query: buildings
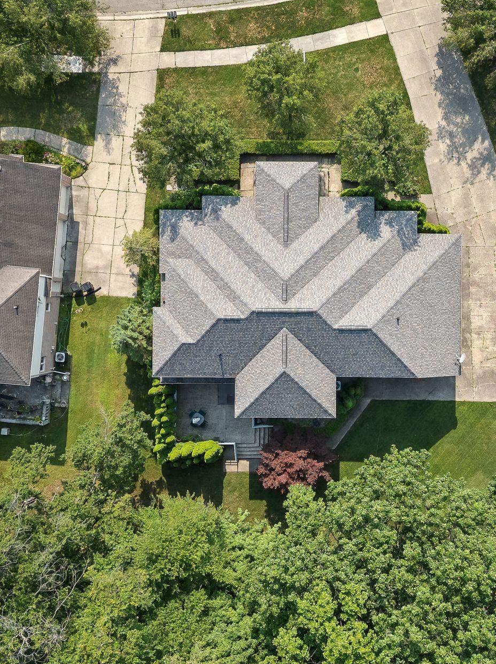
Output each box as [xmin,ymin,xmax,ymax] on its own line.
[152,160,466,419]
[0,152,72,386]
